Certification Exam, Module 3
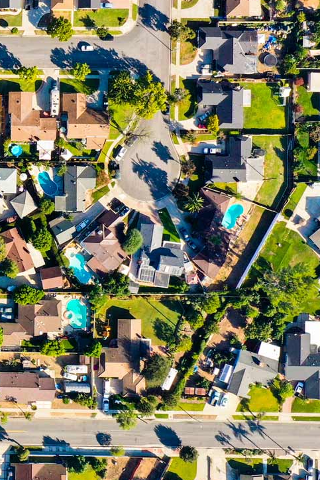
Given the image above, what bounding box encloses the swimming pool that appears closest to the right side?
[222,204,244,230]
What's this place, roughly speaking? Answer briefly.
residential area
